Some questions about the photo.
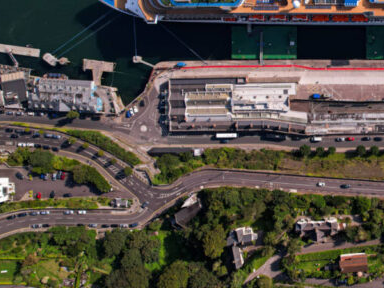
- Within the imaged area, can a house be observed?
Yes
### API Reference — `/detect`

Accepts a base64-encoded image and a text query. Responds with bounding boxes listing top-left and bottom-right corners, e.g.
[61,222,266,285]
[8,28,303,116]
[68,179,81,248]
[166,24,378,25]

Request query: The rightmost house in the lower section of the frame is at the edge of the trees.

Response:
[340,253,368,271]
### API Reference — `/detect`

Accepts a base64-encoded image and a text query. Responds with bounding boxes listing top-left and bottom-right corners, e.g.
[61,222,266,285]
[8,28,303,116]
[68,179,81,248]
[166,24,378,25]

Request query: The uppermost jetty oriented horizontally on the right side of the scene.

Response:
[232,28,298,59]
